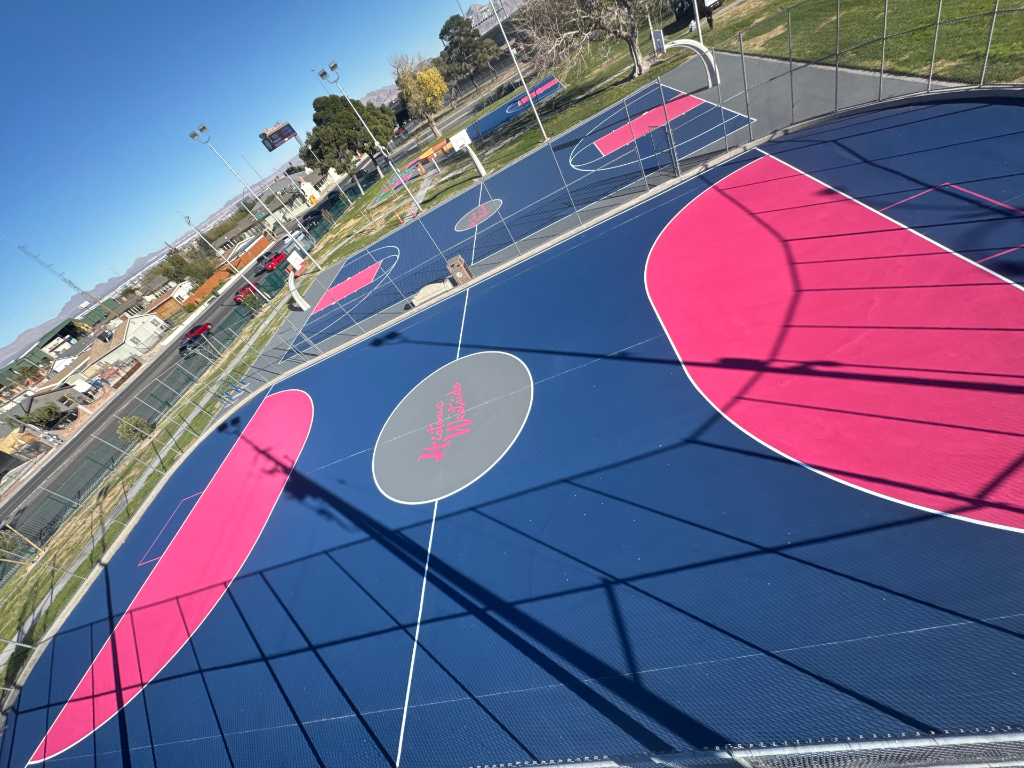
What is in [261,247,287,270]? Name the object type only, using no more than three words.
car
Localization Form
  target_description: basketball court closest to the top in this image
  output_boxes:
[470,75,563,140]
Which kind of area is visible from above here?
sports ground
